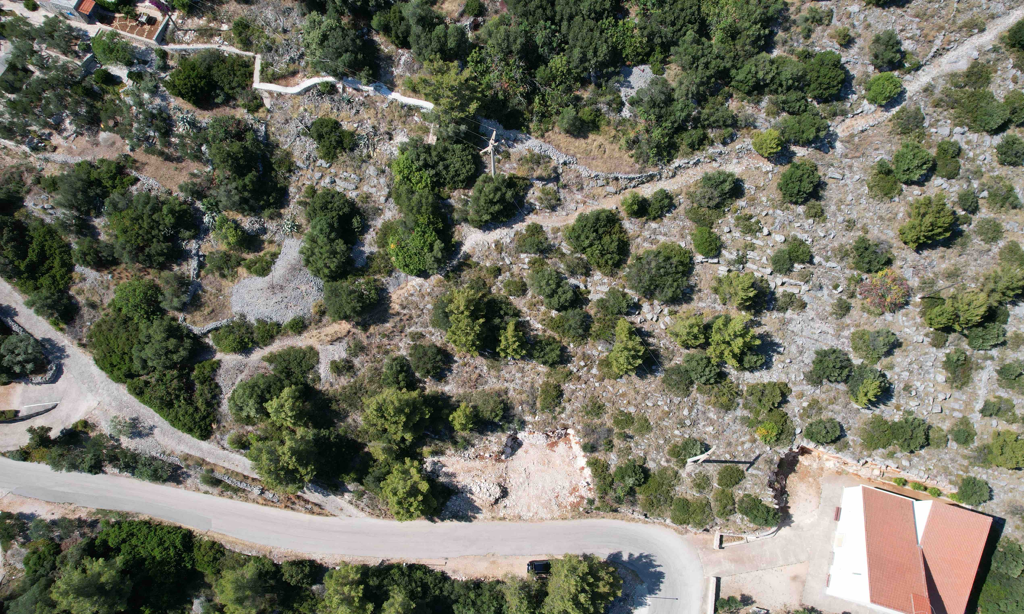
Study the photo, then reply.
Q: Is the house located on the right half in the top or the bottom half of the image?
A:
bottom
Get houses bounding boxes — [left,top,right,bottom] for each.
[22,0,94,24]
[830,484,994,614]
